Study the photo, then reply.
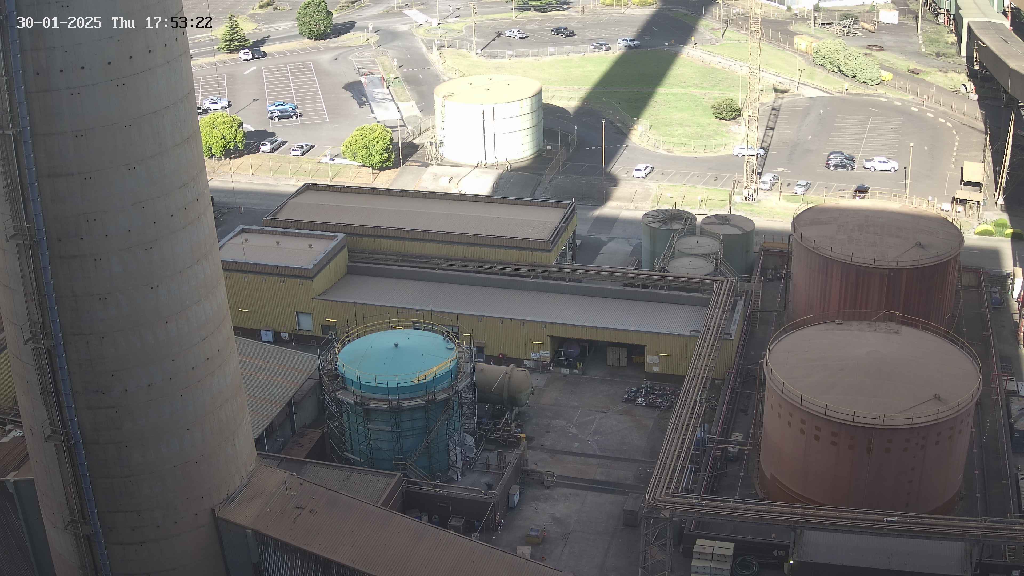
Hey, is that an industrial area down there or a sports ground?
industrial area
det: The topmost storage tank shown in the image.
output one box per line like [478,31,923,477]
[434,73,546,166]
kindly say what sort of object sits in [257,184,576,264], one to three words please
shed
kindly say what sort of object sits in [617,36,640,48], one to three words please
vehicle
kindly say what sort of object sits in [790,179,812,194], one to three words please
car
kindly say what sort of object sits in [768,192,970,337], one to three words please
storage tank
